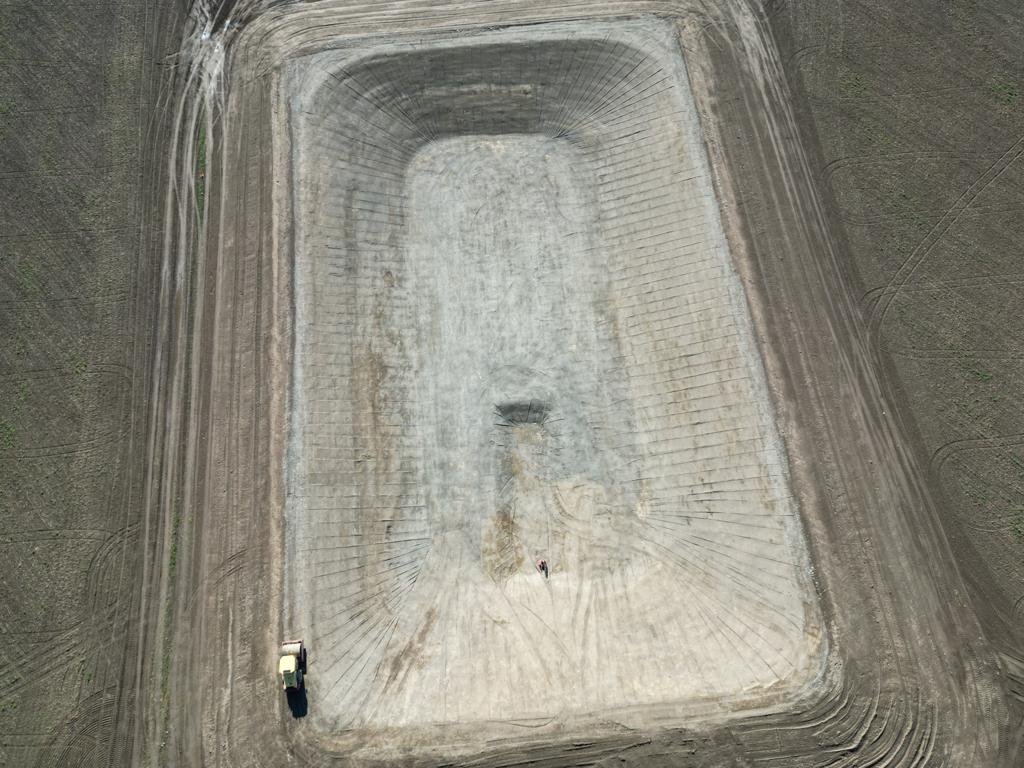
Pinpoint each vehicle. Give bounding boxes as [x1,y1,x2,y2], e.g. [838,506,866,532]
[278,641,305,690]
